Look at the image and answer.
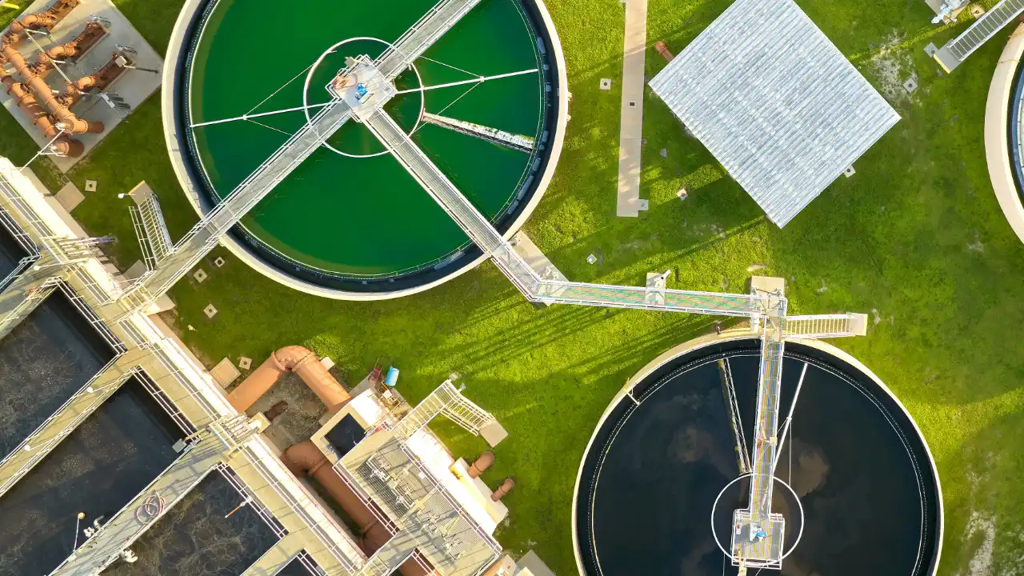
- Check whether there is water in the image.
Yes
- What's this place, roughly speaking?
industrial area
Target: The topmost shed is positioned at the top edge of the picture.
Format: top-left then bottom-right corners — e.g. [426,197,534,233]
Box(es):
[649,0,902,227]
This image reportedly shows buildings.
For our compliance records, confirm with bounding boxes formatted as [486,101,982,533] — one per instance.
[649,0,902,227]
[310,389,510,576]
